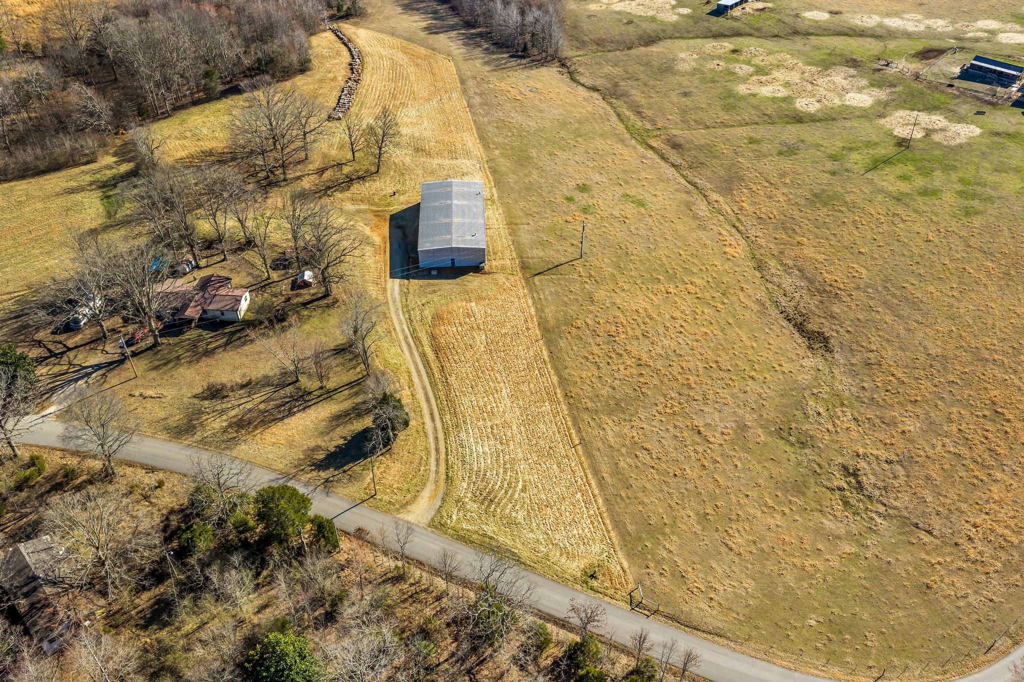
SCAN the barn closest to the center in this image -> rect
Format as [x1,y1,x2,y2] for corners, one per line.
[417,179,486,268]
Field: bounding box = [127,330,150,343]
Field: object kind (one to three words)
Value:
vehicle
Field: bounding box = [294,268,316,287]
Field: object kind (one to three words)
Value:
shed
